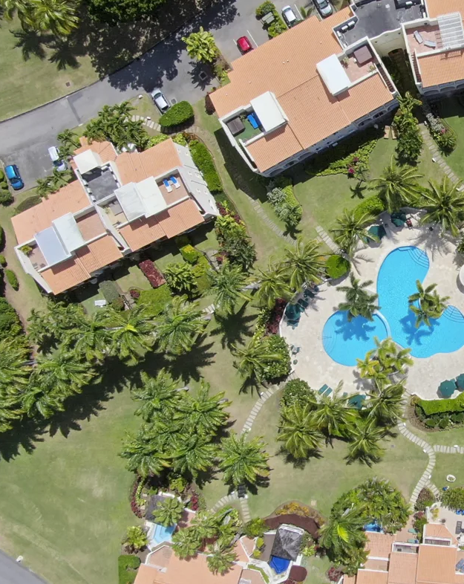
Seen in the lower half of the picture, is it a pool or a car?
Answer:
pool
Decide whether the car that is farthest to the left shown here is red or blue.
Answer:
blue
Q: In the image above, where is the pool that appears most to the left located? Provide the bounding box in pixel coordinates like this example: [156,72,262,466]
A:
[154,524,175,545]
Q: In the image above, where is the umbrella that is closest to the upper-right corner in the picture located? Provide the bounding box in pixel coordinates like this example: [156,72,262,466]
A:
[391,211,406,228]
